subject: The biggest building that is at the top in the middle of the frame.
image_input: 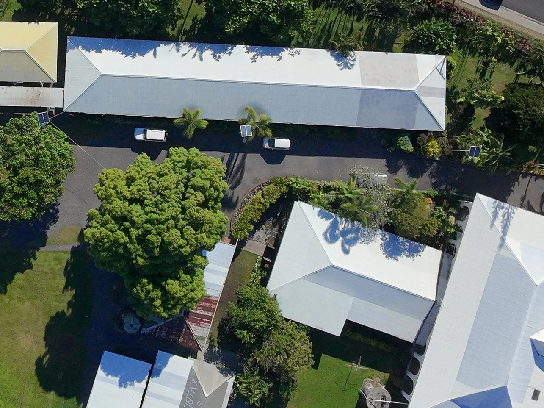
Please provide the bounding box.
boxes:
[63,35,447,132]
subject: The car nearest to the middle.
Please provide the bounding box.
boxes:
[263,138,290,151]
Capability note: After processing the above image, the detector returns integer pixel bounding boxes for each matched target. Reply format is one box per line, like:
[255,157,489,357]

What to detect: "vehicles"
[263,138,290,151]
[134,127,167,143]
